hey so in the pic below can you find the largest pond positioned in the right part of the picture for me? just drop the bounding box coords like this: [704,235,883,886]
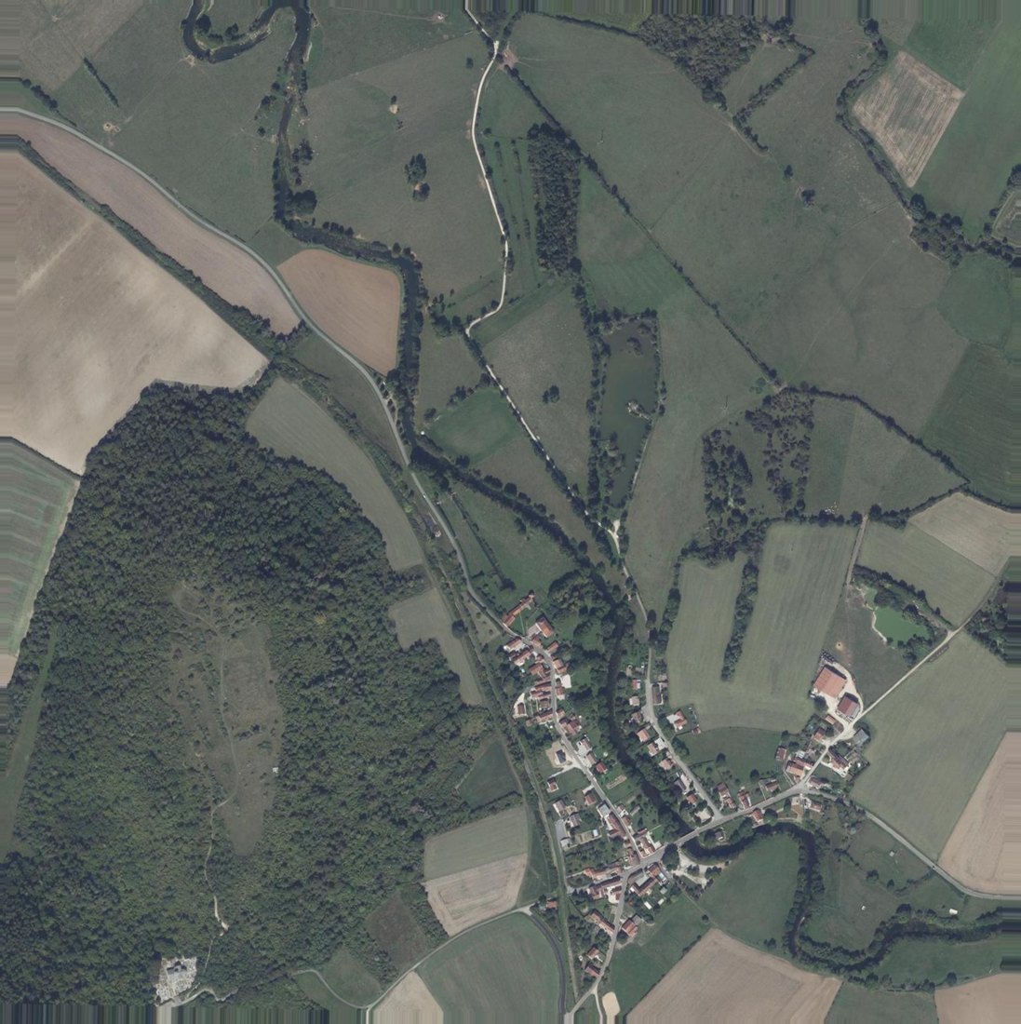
[600,319,657,506]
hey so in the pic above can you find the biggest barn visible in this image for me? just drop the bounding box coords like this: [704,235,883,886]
[814,667,849,700]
